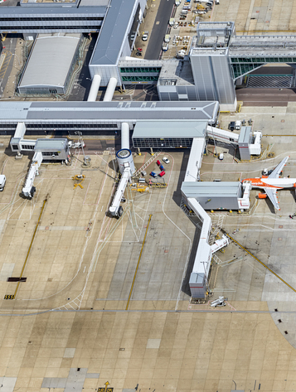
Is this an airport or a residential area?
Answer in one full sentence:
It's an airport.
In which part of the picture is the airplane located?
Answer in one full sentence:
You can find the airplane in the right area of the picture.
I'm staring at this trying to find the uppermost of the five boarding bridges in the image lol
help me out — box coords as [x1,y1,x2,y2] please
[249,128,265,164]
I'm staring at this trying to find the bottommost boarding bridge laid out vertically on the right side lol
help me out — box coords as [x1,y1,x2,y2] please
[236,179,254,219]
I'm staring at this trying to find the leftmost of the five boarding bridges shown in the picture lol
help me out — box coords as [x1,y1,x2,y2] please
[22,152,44,199]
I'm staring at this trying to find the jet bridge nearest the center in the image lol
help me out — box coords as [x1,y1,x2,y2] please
[109,165,131,220]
